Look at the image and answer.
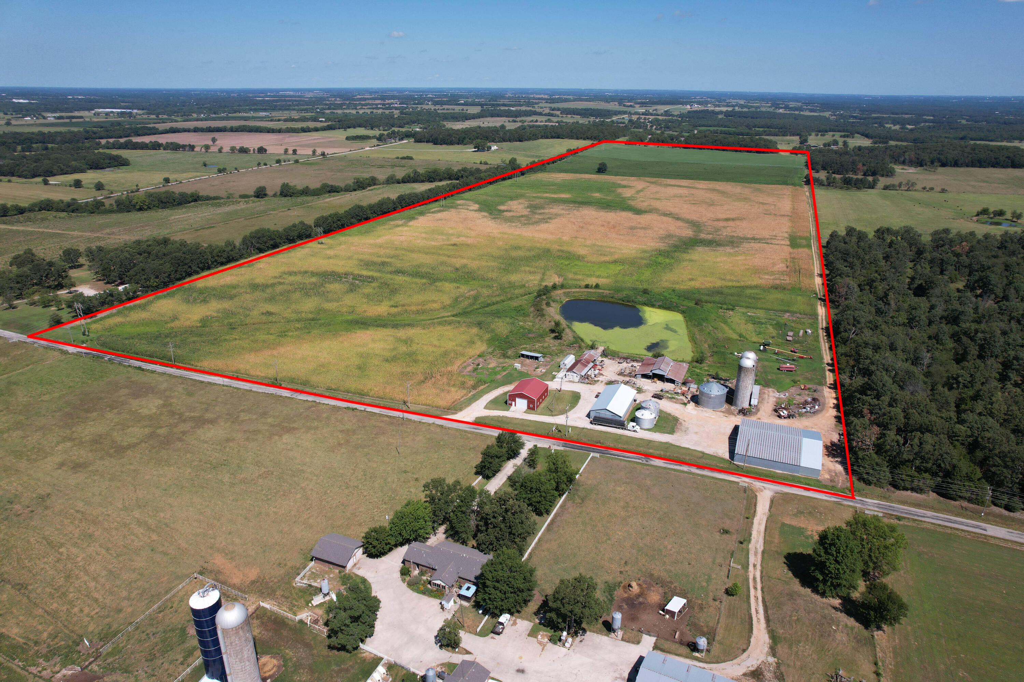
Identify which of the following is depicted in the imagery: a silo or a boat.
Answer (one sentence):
The image shows a silo.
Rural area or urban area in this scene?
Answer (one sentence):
The land in this view is best described as rural.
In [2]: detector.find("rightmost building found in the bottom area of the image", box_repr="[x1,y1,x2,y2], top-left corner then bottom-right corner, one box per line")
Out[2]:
[733,418,823,479]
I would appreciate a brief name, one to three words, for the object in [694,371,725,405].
silo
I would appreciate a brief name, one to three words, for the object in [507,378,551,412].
barn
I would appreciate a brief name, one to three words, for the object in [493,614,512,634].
vehicle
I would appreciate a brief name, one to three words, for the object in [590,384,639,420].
shed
